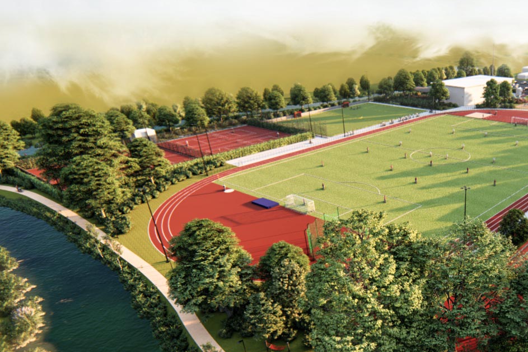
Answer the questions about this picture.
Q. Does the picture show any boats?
No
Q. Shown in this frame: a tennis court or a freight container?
tennis court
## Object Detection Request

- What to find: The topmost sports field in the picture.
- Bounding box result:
[279,102,428,138]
